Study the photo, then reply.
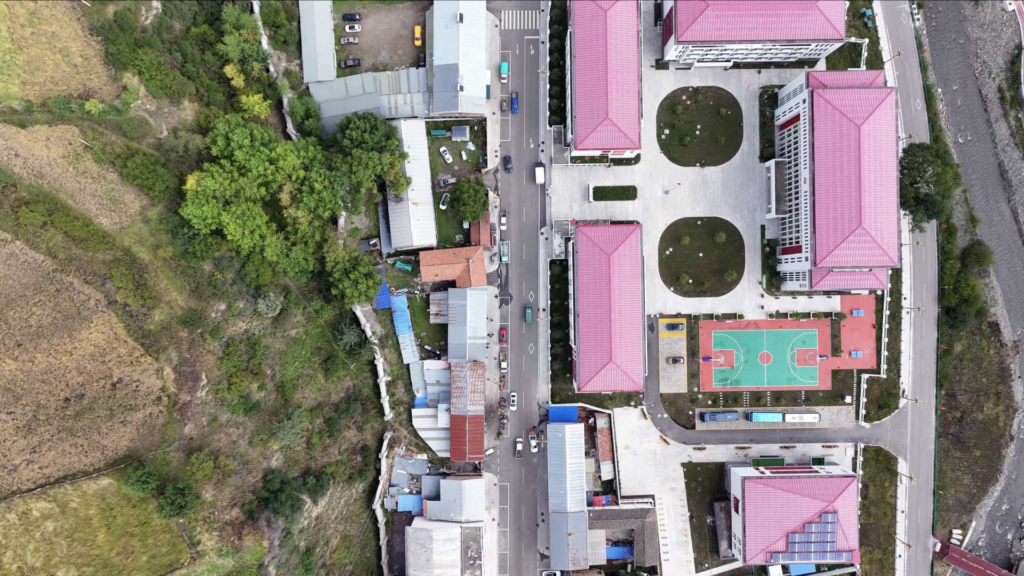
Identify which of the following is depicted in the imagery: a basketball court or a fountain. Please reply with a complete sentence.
Of the two, only a basketball court appears.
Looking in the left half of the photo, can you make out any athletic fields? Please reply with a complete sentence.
No, in the left half of the photo there is no athletic field.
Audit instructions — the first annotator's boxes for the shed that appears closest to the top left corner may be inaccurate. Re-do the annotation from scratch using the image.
[301,0,339,85]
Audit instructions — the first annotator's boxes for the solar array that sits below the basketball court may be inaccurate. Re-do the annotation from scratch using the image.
[767,513,852,563]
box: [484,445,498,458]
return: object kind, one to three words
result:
vehicle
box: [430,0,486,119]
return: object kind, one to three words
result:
building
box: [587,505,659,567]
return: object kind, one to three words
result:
house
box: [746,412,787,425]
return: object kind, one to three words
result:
vehicle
